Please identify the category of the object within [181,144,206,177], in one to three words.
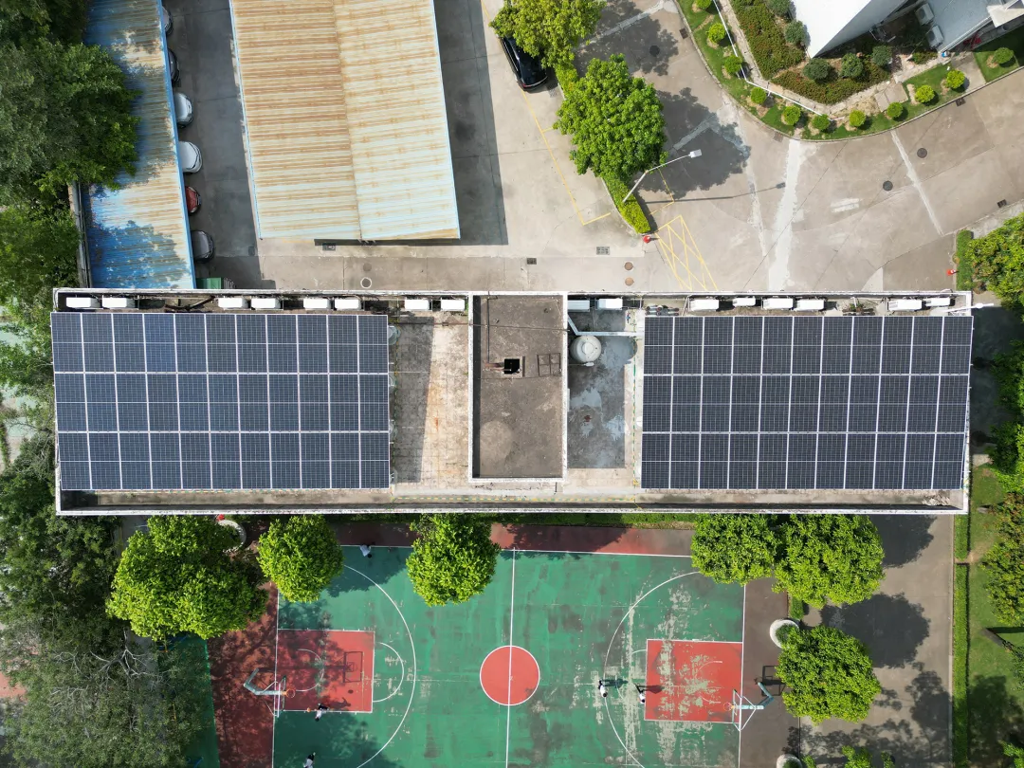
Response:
car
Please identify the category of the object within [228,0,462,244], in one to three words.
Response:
shed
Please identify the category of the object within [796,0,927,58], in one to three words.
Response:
building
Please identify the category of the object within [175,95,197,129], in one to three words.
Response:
car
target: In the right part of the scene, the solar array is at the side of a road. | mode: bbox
[636,316,974,489]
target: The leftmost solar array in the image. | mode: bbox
[50,314,395,489]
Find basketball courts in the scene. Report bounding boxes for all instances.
[205,514,799,768]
